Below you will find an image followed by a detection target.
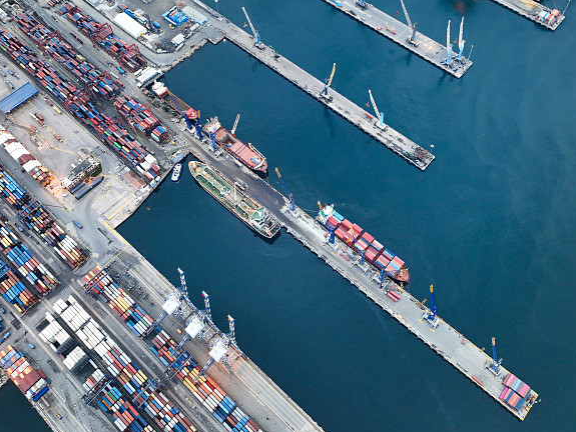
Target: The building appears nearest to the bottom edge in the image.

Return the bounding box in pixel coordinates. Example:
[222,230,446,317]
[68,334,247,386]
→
[61,162,102,190]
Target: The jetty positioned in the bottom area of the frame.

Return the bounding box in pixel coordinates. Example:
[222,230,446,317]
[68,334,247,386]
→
[208,151,538,421]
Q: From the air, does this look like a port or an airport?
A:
port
